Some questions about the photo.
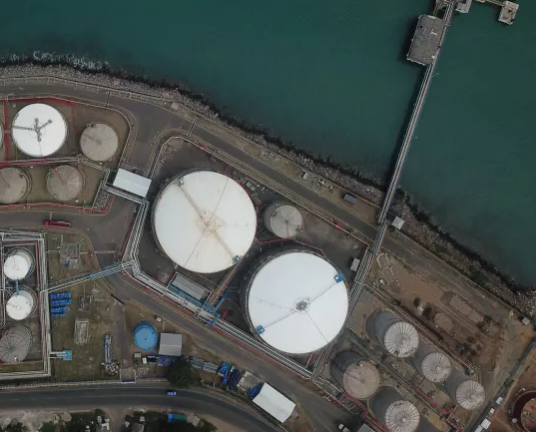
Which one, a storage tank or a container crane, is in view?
storage tank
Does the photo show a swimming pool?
No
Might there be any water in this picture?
Yes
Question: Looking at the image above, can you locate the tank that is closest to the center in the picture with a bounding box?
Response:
[263,195,304,239]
